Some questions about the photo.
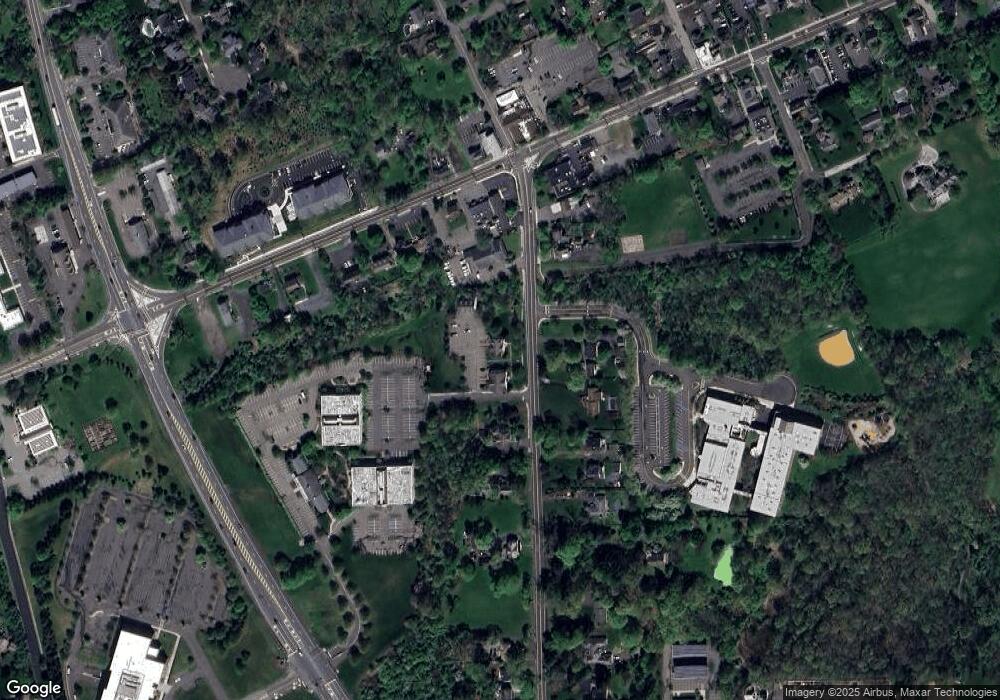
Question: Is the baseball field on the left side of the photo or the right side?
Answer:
right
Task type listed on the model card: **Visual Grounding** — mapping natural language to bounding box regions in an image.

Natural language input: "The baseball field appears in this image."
[819,327,860,366]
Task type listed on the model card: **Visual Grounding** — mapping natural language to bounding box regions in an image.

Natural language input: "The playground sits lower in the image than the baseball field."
[848,419,896,449]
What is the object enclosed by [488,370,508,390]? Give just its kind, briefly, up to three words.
building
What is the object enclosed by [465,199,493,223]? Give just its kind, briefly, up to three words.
building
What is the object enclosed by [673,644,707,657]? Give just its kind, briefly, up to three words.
shed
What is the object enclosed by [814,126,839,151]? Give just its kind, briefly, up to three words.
house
